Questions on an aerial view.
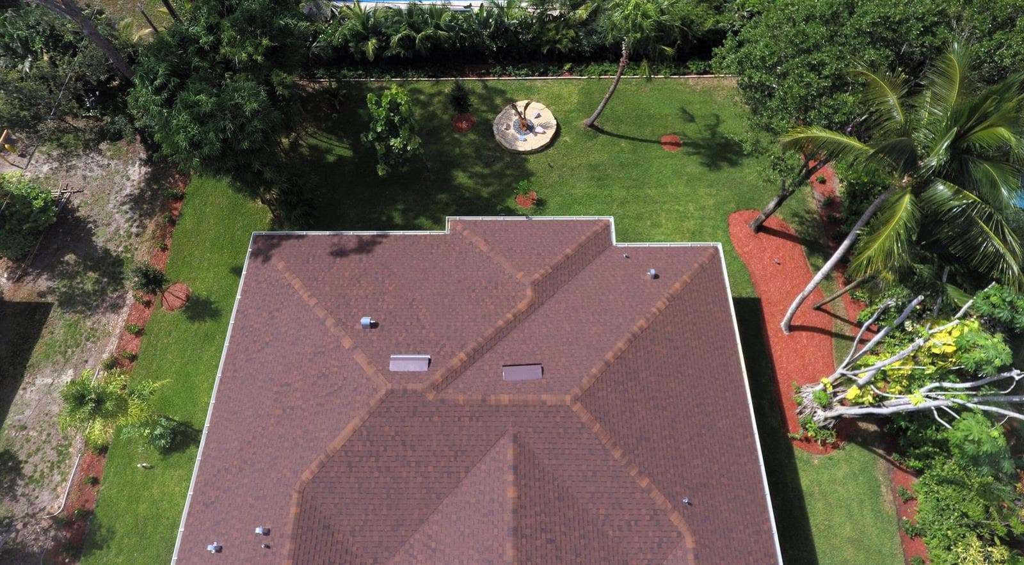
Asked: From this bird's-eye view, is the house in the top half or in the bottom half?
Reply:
bottom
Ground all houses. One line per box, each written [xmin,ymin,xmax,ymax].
[168,214,788,565]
